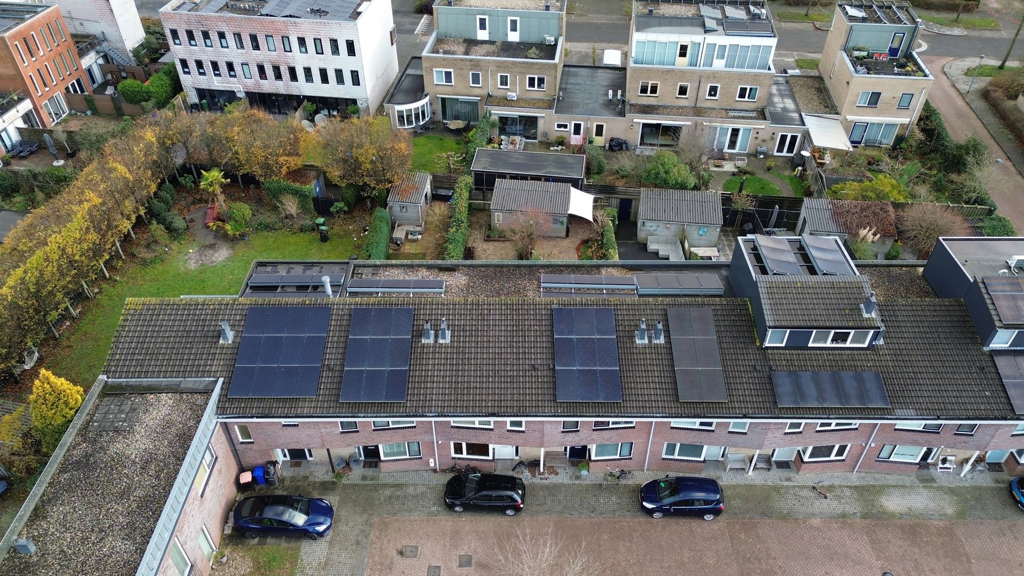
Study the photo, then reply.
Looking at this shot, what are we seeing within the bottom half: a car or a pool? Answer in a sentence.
You can see a car within the bottom half.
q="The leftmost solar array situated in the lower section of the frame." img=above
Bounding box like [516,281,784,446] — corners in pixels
[227,305,329,396]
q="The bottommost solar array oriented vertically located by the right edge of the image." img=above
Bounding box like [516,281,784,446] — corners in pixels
[994,352,1024,414]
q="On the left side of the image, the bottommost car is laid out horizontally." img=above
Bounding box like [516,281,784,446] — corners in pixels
[232,492,336,541]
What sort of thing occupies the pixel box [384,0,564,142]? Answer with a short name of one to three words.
house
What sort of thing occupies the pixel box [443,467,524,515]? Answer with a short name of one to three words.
car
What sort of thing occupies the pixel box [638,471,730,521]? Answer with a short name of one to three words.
car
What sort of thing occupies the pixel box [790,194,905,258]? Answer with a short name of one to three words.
shed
